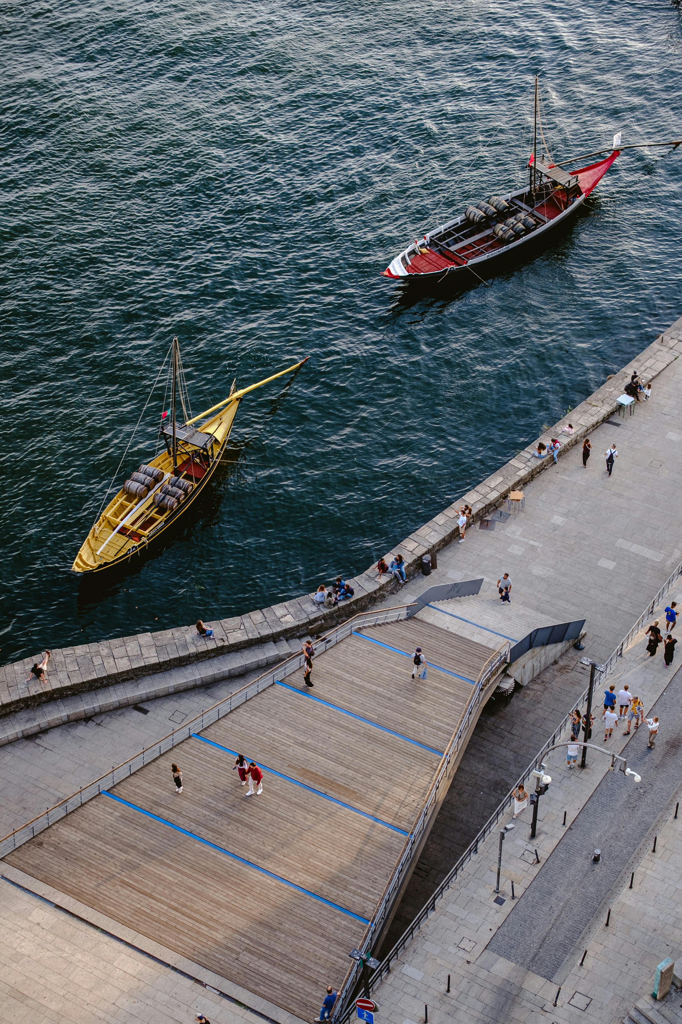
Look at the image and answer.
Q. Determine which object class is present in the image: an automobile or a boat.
boat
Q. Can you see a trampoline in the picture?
No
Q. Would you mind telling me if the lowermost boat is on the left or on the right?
left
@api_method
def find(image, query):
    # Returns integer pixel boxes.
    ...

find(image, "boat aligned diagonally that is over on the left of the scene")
[67,335,313,579]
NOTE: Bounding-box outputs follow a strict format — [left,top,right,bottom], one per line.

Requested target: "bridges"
[0,614,504,1024]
